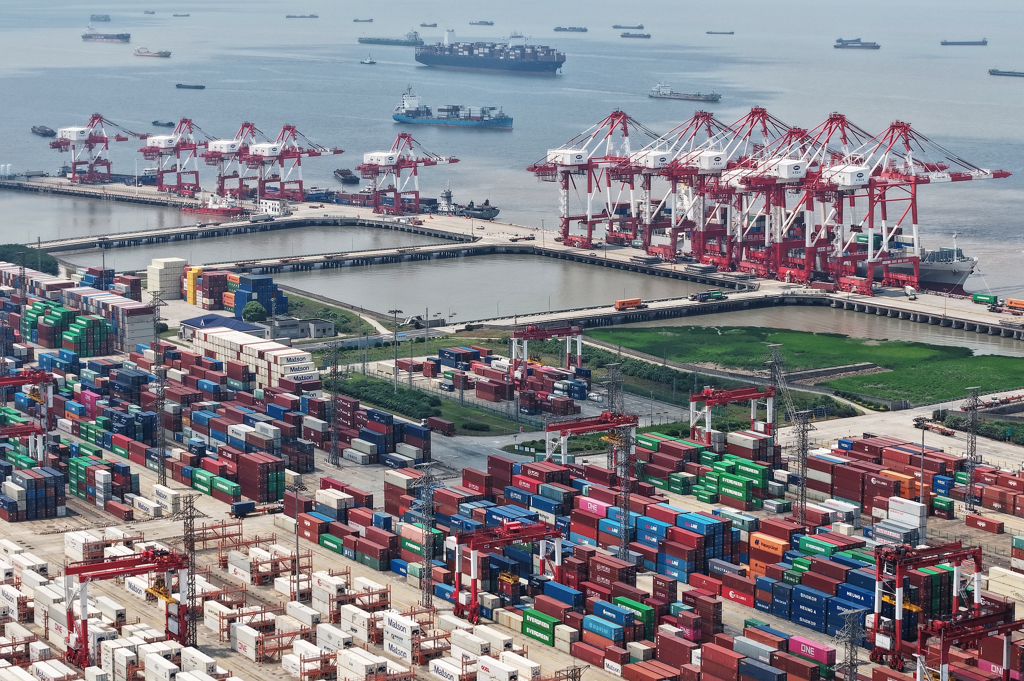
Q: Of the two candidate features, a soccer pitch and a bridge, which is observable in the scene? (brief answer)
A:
bridge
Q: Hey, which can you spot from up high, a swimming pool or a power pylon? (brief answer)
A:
power pylon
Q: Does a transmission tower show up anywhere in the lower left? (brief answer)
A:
Yes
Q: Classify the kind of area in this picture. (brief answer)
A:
port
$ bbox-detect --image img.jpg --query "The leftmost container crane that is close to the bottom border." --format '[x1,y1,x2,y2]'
[57,546,192,668]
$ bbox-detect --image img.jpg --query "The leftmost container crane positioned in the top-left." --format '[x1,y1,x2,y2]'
[53,111,143,184]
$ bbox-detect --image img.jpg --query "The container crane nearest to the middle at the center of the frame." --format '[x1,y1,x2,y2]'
[509,322,589,391]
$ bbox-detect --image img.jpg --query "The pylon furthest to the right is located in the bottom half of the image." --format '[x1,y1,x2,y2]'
[957,380,990,514]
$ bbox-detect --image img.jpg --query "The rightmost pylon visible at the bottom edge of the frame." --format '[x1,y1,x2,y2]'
[823,609,875,681]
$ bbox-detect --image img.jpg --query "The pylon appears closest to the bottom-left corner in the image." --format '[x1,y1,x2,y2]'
[161,484,211,647]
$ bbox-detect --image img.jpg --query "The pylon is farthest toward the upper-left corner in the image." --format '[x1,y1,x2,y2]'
[8,253,38,347]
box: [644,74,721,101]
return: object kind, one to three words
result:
ship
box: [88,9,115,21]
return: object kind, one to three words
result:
ship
